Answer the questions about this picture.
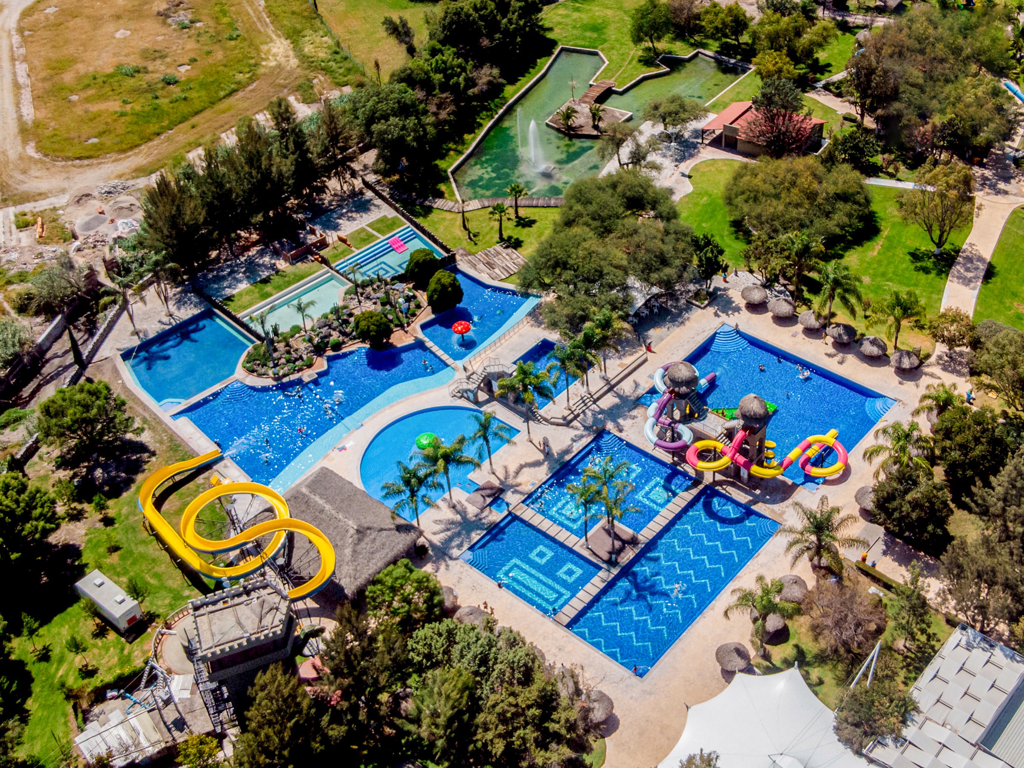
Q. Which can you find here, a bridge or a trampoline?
bridge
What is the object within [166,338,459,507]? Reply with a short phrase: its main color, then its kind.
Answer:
blue swimming pool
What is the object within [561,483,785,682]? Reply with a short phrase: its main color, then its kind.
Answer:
blue swimming pool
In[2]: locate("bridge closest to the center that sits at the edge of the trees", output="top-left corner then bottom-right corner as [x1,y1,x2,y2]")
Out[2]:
[451,360,516,400]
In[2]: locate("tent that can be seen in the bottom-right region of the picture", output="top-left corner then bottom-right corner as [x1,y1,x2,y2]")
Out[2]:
[647,658,871,768]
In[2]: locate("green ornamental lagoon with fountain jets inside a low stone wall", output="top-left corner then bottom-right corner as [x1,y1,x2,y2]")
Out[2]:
[449,47,756,204]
